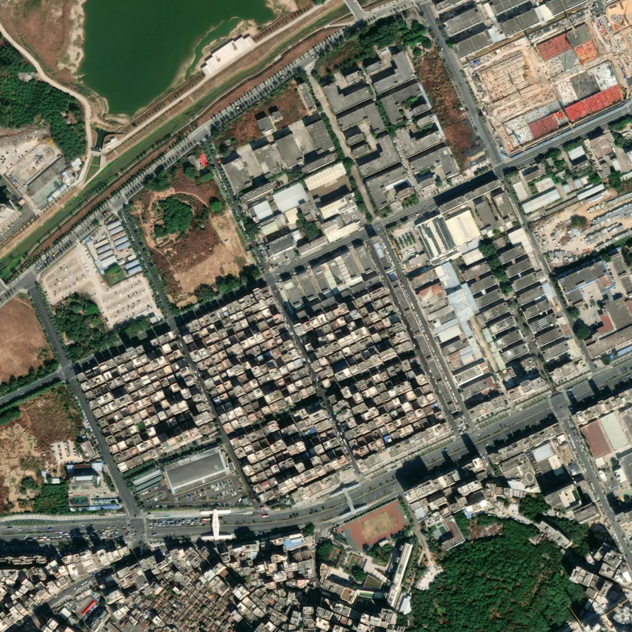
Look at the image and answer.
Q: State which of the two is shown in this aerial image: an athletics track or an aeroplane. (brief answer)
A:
athletics track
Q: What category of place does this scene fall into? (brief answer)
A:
residential area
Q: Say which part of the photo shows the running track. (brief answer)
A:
bottom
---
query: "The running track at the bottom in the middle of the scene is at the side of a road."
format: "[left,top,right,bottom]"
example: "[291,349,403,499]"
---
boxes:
[337,501,410,550]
